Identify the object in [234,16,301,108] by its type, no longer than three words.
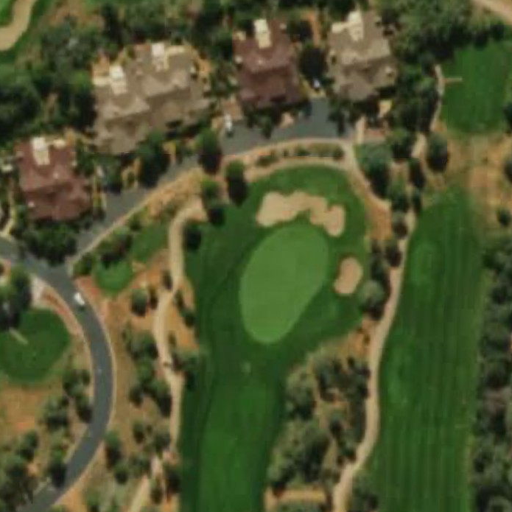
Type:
house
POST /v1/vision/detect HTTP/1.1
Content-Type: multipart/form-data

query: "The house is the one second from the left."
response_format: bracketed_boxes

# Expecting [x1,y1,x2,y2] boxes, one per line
[86,39,216,154]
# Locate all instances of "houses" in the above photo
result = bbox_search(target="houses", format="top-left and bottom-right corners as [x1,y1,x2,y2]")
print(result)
[234,16,301,108]
[327,6,400,101]
[2,135,93,223]
[86,39,216,154]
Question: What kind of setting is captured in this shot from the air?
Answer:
golf course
